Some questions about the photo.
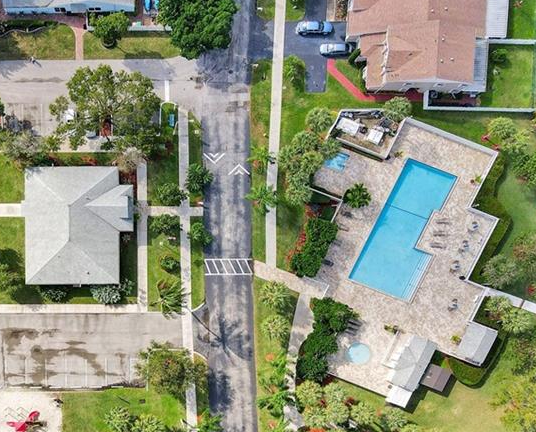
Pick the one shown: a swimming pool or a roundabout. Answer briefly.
swimming pool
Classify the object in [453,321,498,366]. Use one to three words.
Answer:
building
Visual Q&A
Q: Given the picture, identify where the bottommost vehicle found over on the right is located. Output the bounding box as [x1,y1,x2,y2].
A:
[318,41,351,57]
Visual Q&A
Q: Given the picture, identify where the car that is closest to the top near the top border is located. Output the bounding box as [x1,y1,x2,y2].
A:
[297,21,332,36]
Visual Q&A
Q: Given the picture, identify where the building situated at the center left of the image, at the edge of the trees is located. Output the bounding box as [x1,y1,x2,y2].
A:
[25,166,134,284]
